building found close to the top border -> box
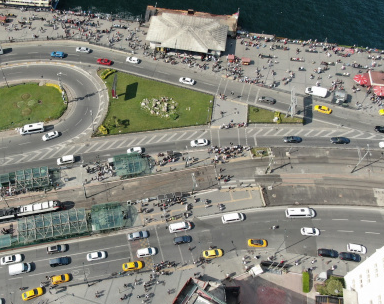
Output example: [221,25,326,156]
[145,12,230,63]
